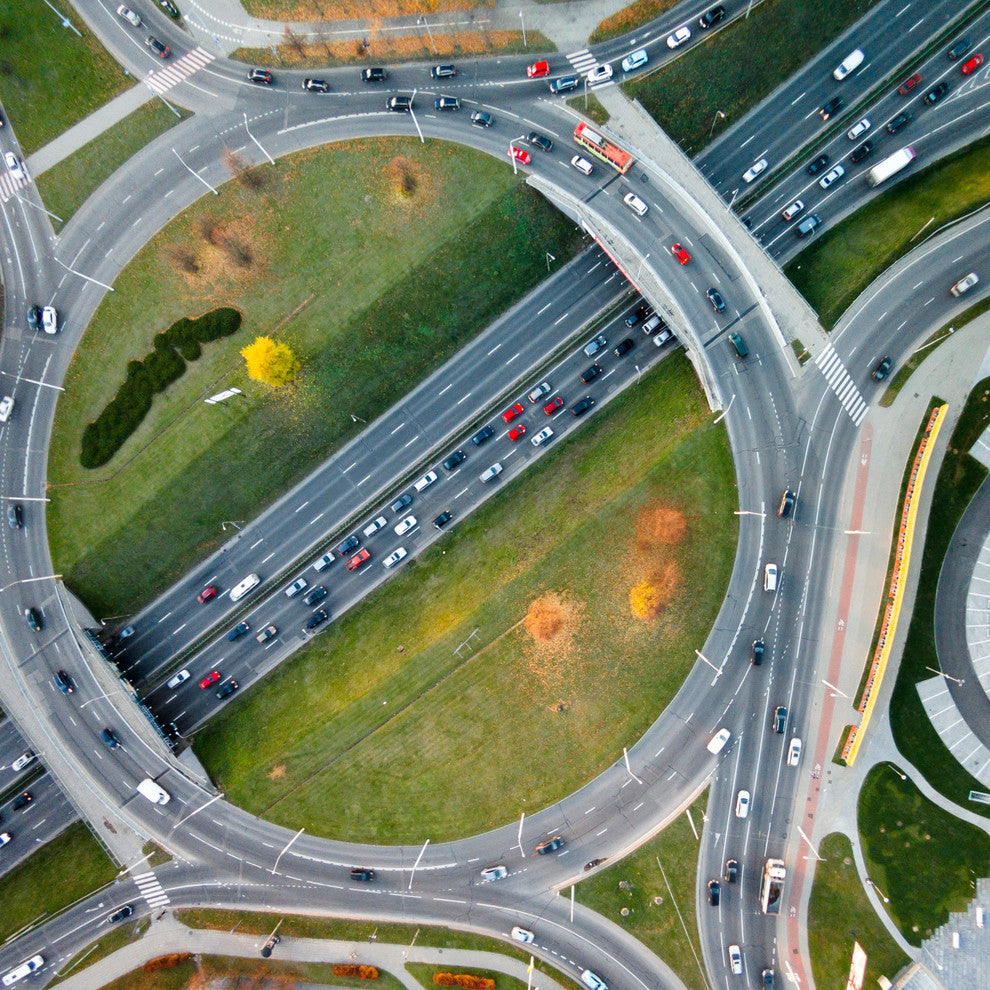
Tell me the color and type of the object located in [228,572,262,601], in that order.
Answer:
white van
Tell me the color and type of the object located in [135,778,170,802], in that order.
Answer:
white vehicle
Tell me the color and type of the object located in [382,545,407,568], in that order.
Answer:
white car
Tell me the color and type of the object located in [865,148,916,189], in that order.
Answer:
white truck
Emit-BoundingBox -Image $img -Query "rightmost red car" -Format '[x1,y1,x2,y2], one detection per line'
[959,52,985,75]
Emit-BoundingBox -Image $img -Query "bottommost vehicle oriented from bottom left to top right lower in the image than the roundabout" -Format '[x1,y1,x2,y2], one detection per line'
[0,951,47,989]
